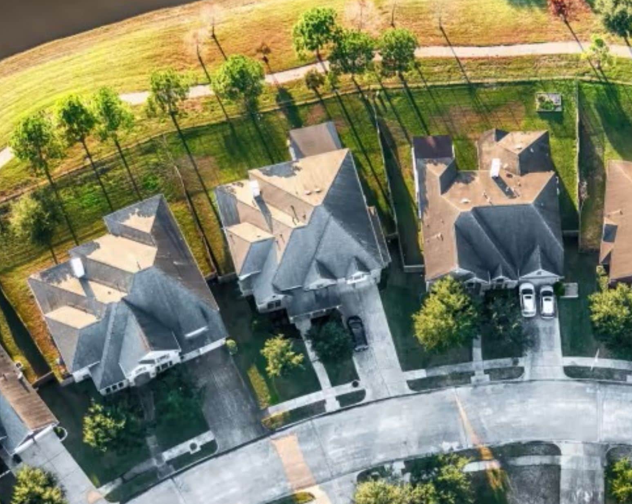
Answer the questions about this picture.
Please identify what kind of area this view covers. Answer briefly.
residential area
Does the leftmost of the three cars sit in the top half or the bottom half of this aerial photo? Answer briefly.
bottom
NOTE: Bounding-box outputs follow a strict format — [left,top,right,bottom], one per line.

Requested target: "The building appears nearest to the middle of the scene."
[214,122,390,327]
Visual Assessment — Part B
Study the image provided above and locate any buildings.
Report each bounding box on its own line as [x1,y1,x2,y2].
[0,345,60,460]
[411,129,564,289]
[600,160,632,291]
[214,122,390,327]
[28,194,227,397]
